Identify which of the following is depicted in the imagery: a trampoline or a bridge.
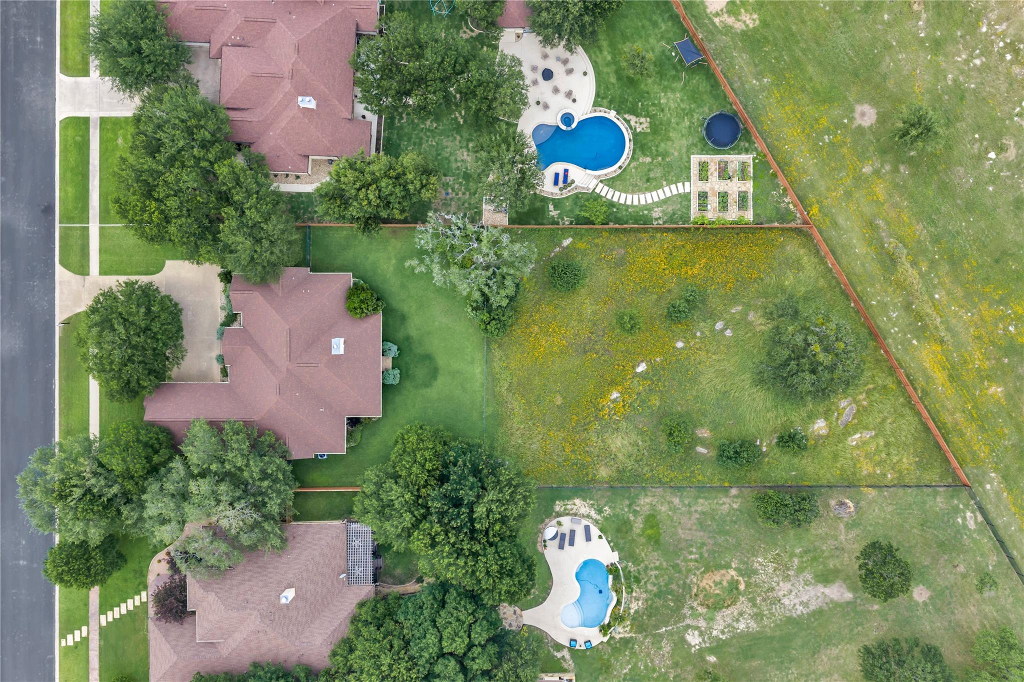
trampoline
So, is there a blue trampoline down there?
Yes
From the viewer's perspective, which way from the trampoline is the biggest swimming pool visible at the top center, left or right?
on the left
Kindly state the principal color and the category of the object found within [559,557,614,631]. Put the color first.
blue swimming pool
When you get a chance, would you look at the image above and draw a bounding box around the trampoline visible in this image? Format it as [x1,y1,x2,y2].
[696,107,744,149]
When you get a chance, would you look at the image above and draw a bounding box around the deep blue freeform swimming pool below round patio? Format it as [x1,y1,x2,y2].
[530,108,629,173]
